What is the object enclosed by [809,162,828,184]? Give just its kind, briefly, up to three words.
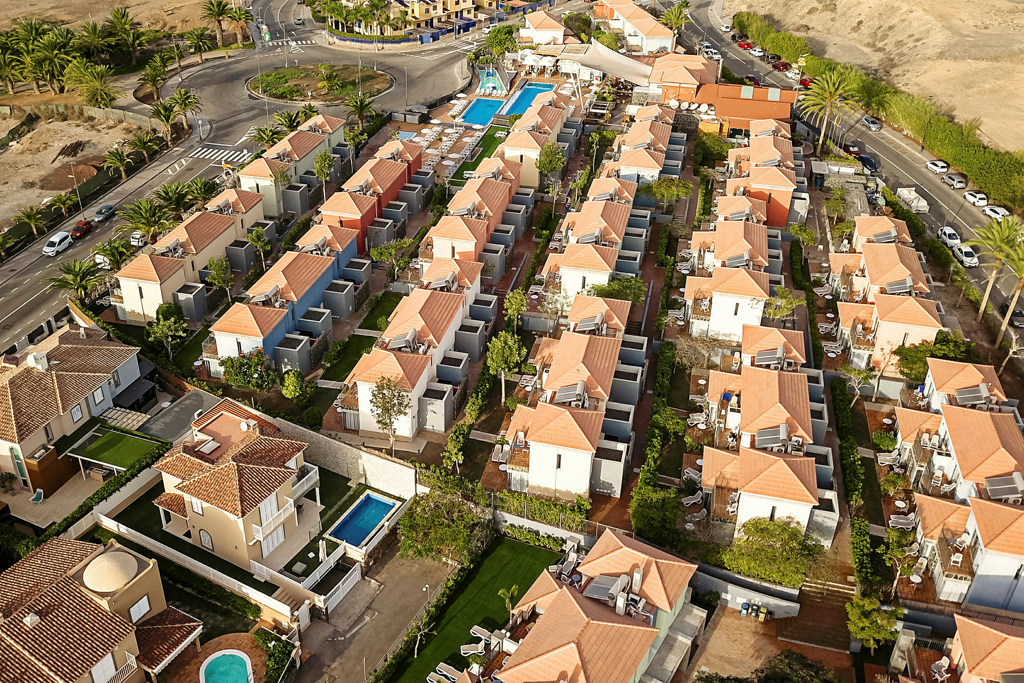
shed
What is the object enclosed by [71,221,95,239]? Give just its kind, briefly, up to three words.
car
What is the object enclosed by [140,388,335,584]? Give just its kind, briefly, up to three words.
house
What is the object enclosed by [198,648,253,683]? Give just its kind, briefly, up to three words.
swimming pool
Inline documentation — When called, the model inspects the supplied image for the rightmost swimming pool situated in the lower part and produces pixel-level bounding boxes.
[325,490,399,551]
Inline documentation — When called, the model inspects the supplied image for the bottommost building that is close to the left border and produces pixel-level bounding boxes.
[0,533,207,683]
